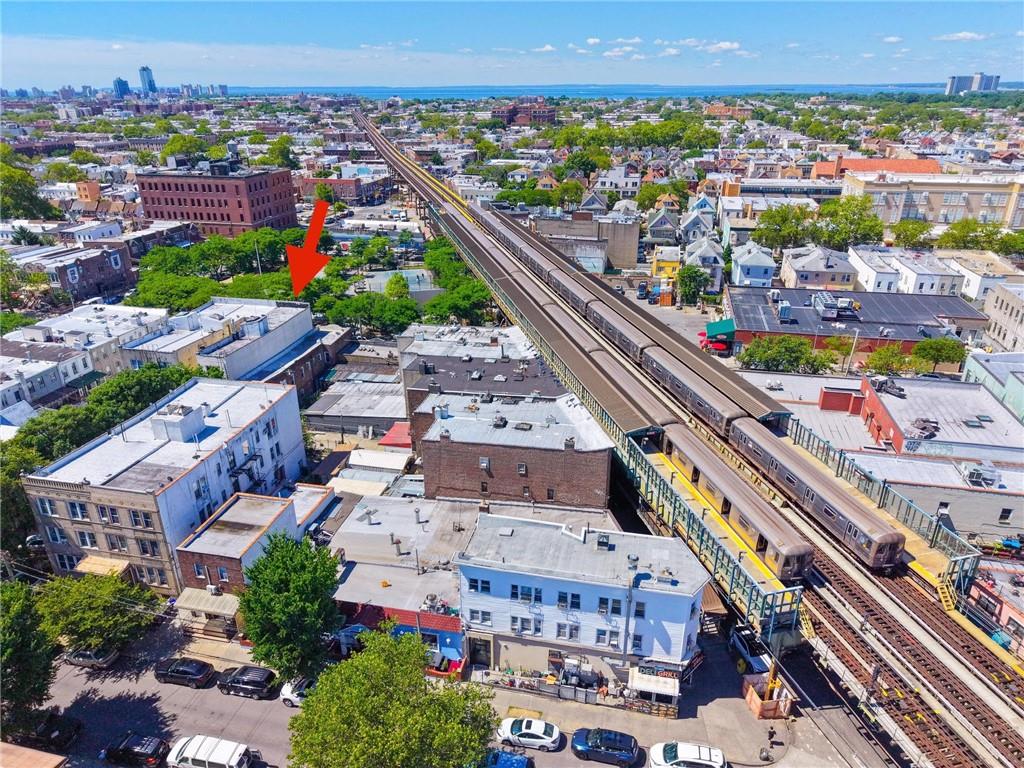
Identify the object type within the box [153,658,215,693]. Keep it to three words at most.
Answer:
car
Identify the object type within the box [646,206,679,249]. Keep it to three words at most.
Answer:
house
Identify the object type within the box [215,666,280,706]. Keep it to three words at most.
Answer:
car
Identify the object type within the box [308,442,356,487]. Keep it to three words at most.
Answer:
shed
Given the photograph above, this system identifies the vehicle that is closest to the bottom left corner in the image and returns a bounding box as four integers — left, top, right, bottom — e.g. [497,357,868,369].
[18,712,89,754]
